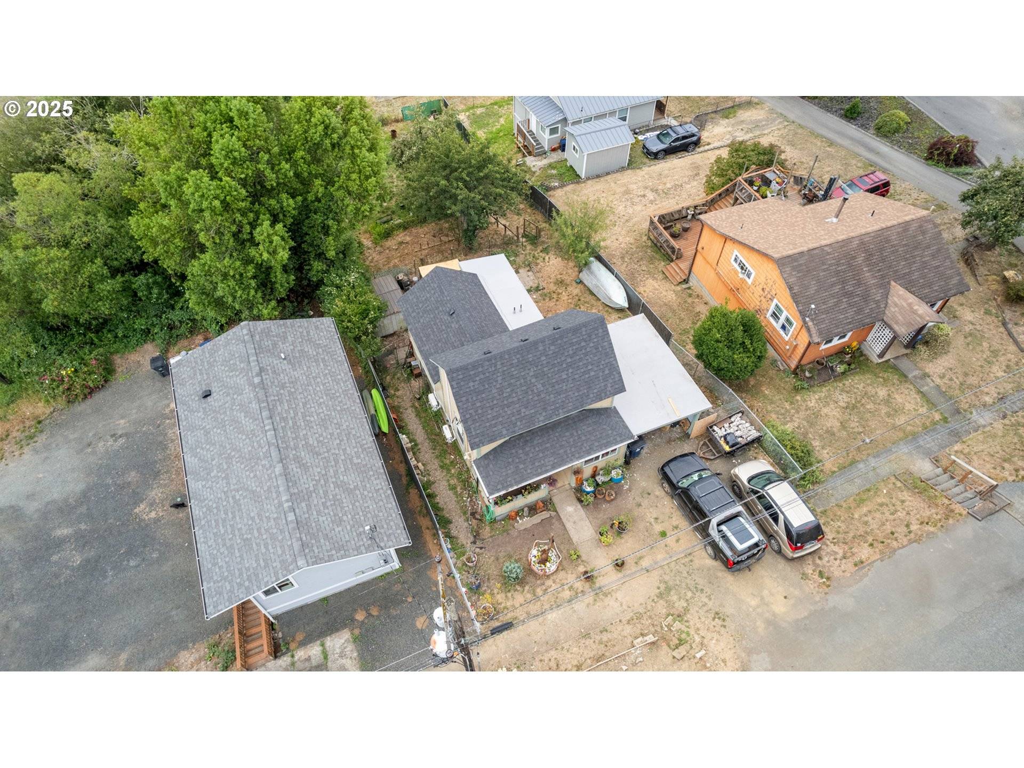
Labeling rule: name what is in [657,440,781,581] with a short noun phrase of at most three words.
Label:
truck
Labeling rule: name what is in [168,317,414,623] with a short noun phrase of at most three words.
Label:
house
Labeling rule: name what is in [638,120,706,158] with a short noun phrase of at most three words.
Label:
car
